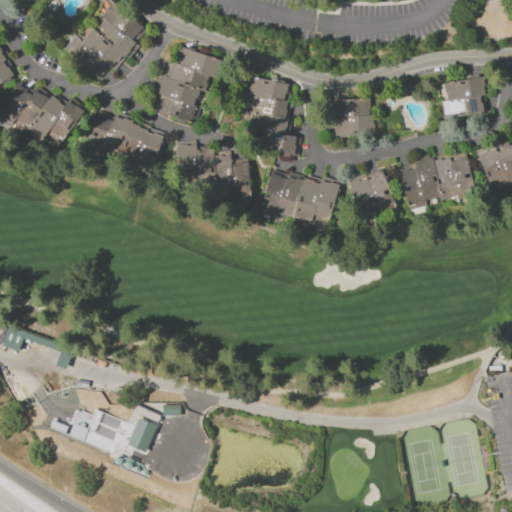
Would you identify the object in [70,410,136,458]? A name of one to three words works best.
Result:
building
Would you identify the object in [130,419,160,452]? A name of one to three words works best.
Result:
barn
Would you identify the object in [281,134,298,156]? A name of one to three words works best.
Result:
building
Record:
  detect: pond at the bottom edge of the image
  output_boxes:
[212,428,302,488]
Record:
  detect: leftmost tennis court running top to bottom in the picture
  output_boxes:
[405,427,450,502]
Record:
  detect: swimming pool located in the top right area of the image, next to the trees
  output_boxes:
[386,96,430,132]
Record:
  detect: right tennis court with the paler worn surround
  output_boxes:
[442,420,488,497]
